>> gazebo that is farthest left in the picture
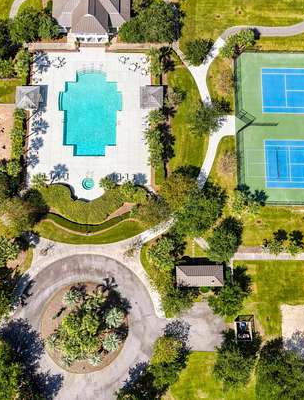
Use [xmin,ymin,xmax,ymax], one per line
[15,86,42,111]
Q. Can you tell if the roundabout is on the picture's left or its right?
left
